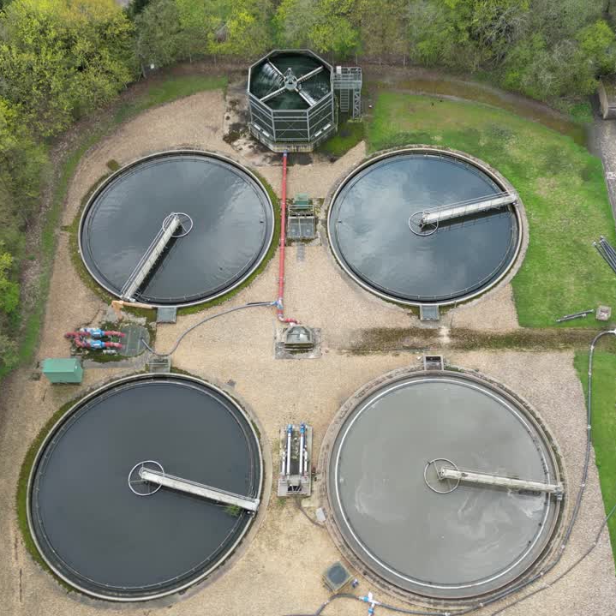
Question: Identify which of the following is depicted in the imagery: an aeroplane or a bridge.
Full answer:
Visible in the photo is a bridge.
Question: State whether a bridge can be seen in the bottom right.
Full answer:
Yes, a bridge is visible in the bottom right.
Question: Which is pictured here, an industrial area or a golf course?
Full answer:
It's an industrial area.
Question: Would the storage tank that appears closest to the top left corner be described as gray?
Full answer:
Yes, gray is the color of the storage tank that appears closest to the top left corner.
